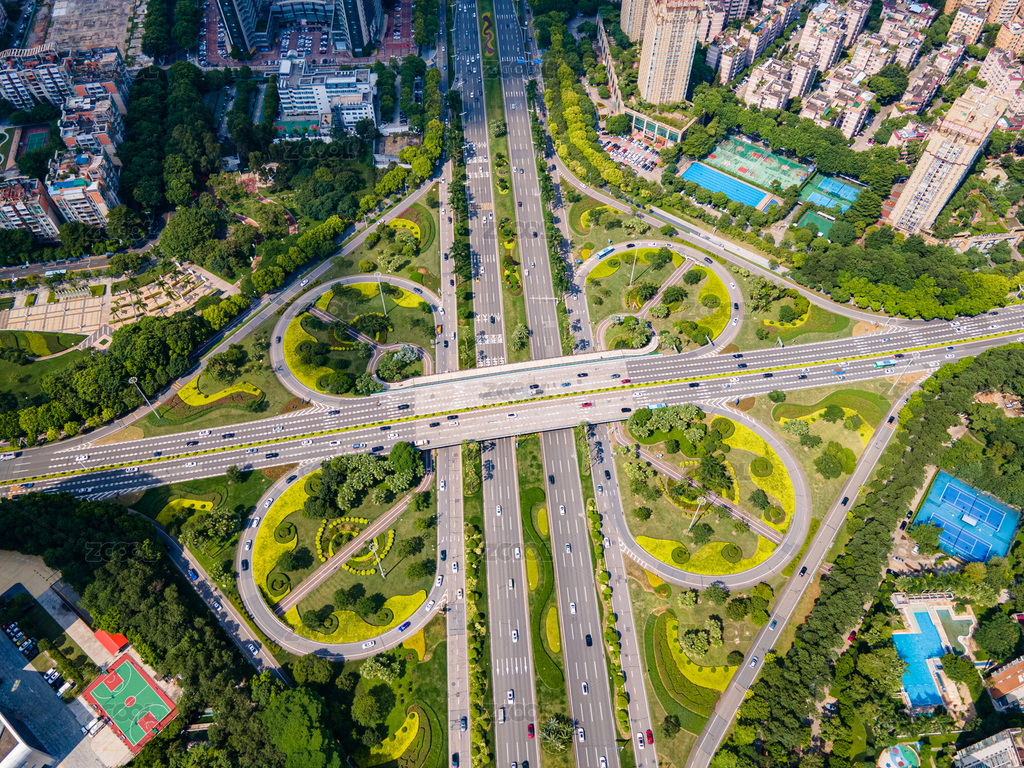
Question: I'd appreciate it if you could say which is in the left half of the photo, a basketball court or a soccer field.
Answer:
basketball court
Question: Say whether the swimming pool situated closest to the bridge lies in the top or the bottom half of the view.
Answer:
top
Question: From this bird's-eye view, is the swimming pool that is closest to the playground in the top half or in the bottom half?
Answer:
bottom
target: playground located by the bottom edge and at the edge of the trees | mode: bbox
[879,745,920,768]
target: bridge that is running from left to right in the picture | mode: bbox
[377,345,657,455]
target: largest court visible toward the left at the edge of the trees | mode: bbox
[81,653,178,754]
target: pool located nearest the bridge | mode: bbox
[671,156,783,214]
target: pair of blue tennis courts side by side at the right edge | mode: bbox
[913,466,1024,563]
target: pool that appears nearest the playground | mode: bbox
[890,592,979,726]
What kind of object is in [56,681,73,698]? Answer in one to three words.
vehicle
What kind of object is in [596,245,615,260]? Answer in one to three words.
vehicle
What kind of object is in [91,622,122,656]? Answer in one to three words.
shed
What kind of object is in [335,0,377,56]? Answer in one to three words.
building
